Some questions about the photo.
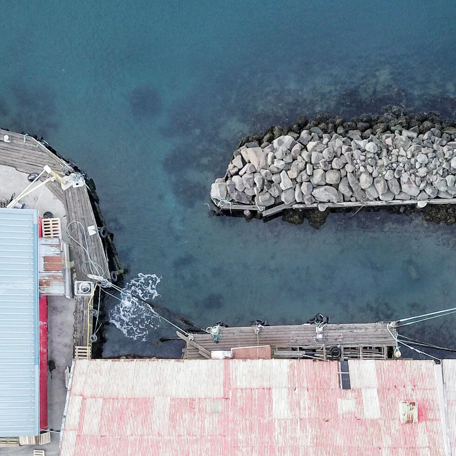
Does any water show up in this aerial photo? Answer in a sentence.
Yes, there is water in the image.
